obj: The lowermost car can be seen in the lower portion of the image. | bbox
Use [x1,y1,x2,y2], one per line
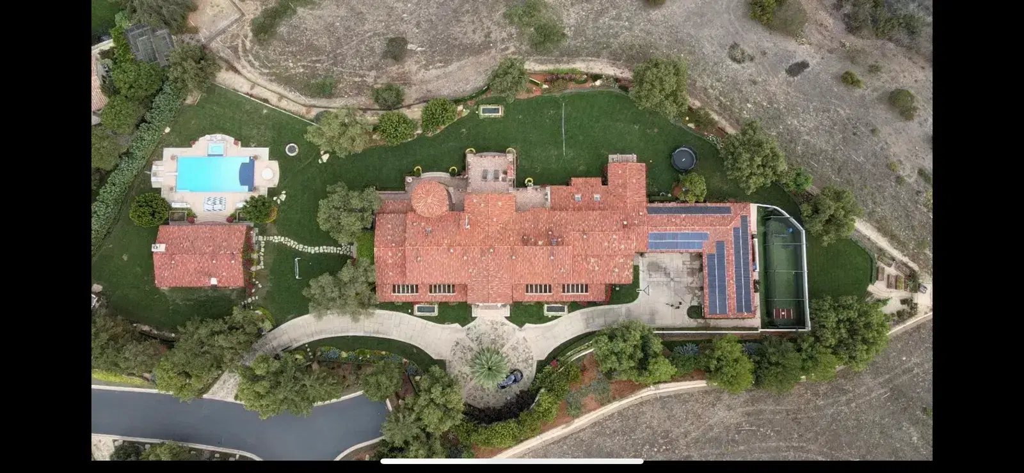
[497,368,524,391]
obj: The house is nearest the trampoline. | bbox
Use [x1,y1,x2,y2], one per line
[374,162,757,319]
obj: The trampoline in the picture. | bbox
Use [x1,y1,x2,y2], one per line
[669,144,700,173]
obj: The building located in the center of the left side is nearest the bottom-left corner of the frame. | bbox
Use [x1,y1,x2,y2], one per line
[152,224,249,288]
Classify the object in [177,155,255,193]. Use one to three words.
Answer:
swimming pool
